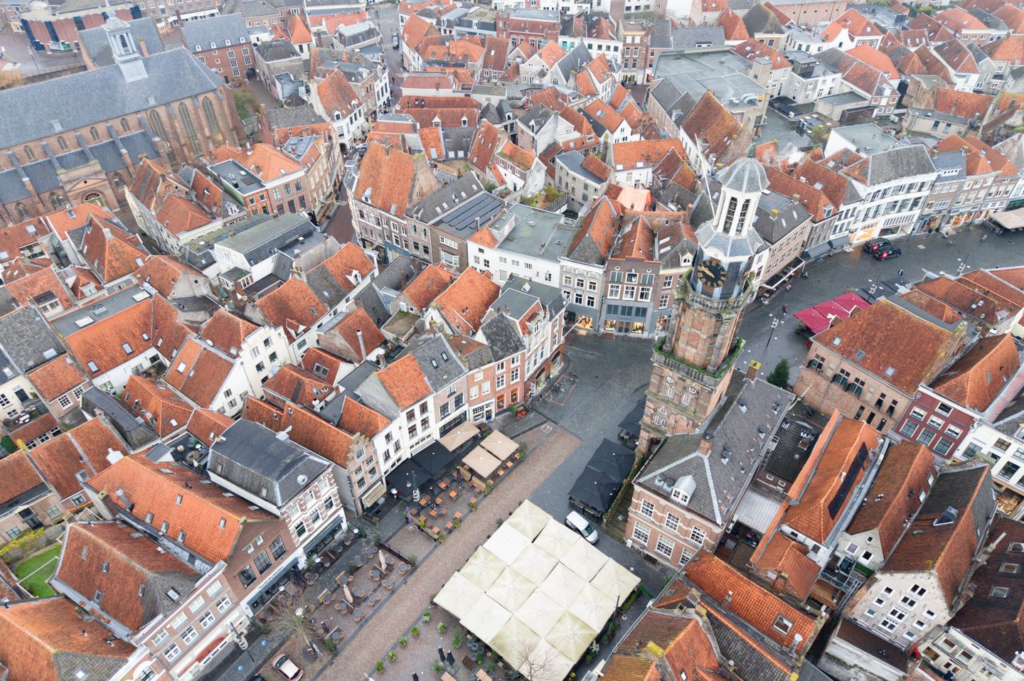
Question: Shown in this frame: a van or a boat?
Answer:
van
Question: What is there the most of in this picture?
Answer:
buildings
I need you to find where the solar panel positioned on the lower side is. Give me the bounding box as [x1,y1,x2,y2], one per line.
[833,437,870,518]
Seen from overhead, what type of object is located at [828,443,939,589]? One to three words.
house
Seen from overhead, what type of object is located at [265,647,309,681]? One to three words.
car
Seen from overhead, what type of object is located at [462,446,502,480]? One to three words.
umbrella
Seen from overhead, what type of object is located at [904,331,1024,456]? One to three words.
house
